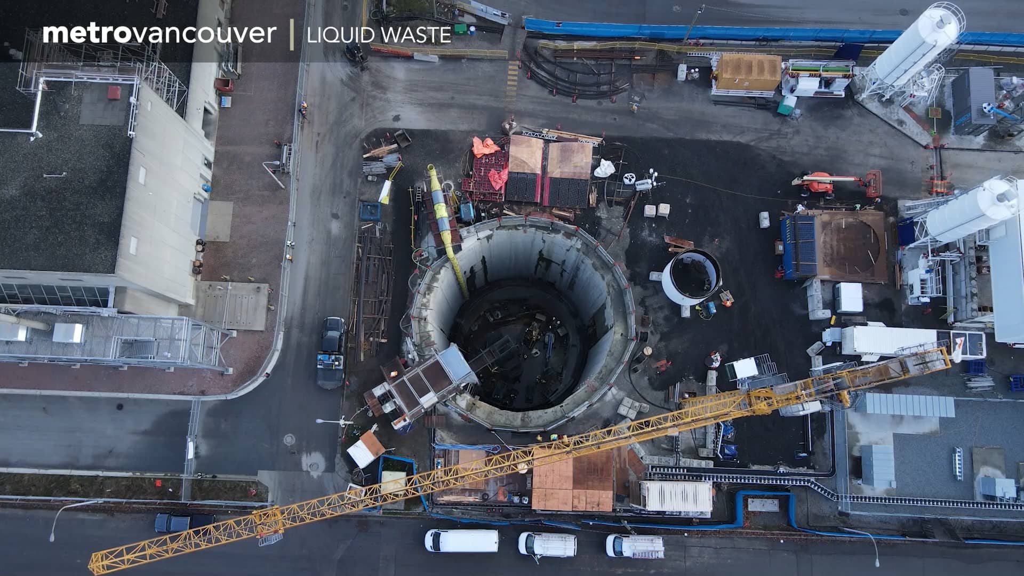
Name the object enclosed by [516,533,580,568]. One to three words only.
van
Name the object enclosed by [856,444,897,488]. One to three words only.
shed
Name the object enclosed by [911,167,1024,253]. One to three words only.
silo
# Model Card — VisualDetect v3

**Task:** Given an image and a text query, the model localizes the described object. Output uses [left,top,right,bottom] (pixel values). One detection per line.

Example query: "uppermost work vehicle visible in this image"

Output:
[339,33,371,73]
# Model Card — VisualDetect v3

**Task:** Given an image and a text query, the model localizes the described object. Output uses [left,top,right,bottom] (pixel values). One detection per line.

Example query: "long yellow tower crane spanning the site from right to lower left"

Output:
[86,331,953,573]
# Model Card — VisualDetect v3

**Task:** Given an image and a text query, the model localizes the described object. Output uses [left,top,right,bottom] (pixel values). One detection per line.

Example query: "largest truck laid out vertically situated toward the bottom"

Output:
[317,317,345,392]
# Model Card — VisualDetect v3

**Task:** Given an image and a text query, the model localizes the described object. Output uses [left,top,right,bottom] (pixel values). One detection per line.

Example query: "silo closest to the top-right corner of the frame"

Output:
[854,0,972,105]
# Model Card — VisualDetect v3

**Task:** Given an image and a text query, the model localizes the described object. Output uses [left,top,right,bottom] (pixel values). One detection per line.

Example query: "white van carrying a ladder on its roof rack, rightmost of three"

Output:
[603,535,671,565]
